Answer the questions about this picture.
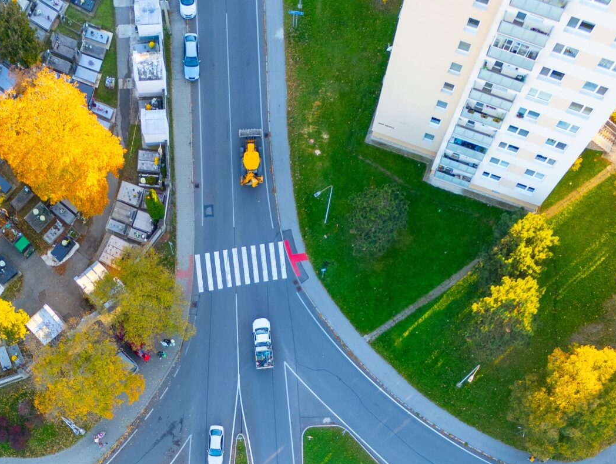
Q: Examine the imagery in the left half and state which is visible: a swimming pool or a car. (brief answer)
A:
car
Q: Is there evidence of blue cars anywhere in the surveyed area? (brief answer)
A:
Yes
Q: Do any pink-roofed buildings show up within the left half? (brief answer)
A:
No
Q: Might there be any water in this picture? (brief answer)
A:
No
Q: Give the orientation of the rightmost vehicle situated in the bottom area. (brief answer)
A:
from top to bottom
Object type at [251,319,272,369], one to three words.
vehicle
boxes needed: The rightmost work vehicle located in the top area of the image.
[239,130,262,188]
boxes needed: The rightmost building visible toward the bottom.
[74,261,108,300]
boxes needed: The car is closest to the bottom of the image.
[205,424,226,464]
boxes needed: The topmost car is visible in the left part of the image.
[177,0,198,24]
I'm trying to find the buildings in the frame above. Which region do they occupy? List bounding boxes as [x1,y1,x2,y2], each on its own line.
[26,306,64,349]
[74,261,108,300]
[134,52,165,96]
[134,0,162,42]
[141,109,169,145]
[361,0,616,220]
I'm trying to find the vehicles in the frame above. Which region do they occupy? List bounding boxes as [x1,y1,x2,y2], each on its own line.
[177,0,198,24]
[205,424,226,464]
[239,130,262,188]
[251,319,272,369]
[181,35,202,82]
